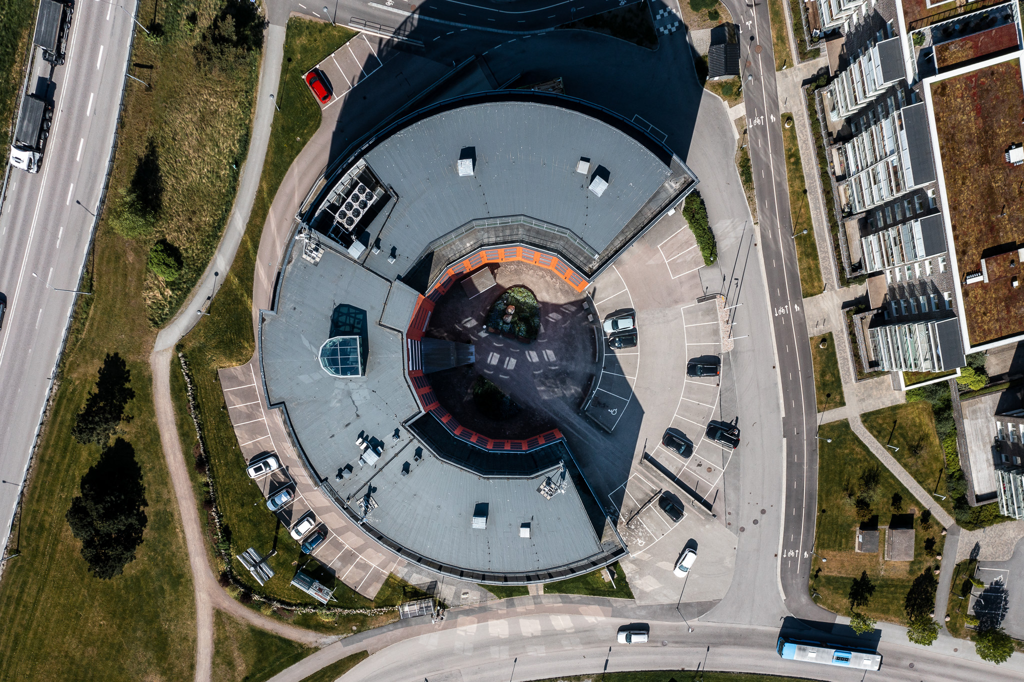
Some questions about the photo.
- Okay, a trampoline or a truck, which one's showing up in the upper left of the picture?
truck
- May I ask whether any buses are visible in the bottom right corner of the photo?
Yes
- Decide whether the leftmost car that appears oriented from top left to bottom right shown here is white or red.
red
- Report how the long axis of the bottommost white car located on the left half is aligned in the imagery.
on a diagonal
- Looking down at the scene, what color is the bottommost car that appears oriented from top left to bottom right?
black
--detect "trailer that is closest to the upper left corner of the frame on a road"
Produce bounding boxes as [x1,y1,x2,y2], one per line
[33,0,73,78]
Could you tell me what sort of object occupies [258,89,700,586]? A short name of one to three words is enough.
building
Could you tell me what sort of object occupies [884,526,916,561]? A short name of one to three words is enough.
house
